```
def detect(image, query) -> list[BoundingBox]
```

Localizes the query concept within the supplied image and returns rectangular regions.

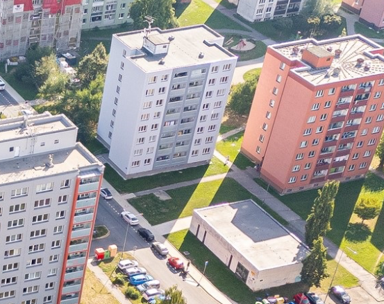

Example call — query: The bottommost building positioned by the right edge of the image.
[240,38,384,194]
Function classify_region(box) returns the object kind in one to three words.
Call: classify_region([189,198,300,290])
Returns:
building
